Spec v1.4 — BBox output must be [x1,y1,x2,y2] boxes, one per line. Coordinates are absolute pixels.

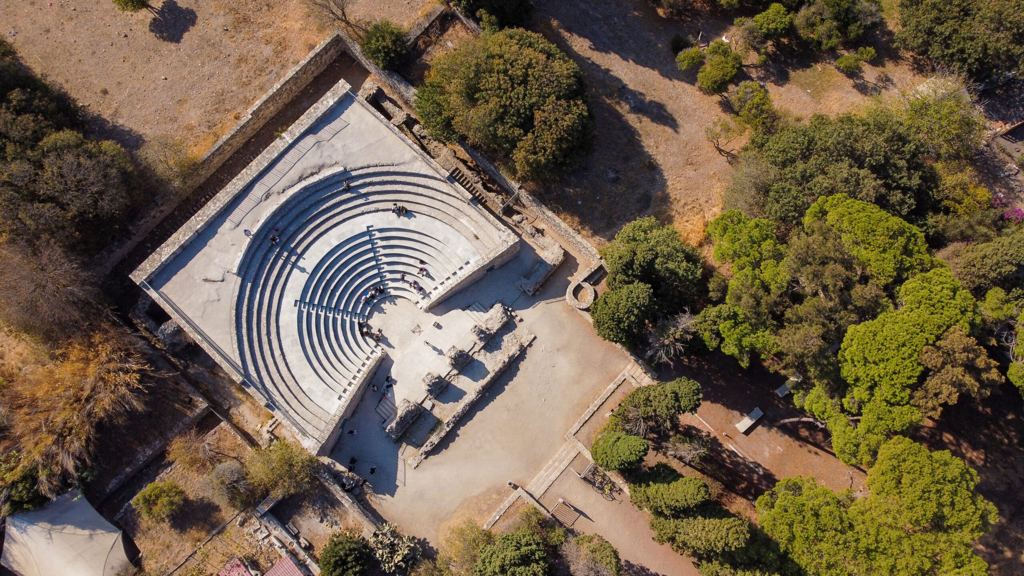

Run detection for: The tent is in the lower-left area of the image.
[0,488,149,576]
